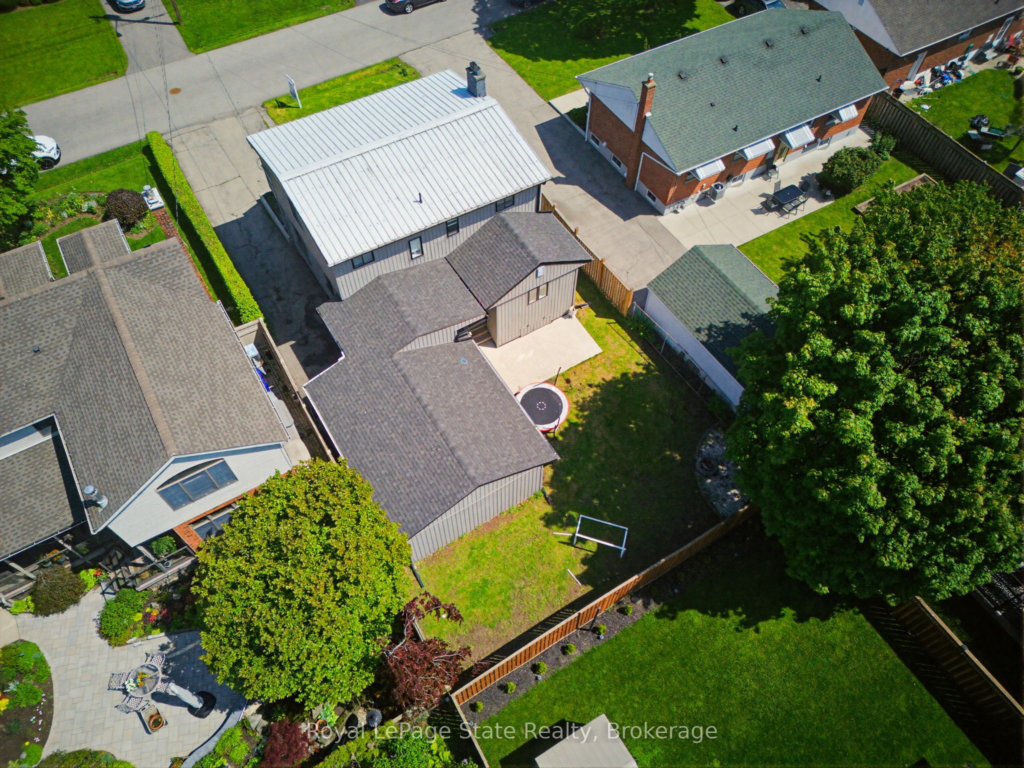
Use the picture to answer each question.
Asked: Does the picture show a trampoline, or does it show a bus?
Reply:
trampoline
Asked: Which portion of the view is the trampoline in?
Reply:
center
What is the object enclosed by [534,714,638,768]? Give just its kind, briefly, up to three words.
shed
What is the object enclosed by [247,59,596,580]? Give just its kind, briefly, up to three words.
house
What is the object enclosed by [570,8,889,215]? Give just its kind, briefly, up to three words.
house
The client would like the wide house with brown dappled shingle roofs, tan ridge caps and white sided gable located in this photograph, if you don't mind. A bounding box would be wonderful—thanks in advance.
[0,185,300,599]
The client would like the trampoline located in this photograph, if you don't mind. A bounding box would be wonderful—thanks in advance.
[516,369,571,432]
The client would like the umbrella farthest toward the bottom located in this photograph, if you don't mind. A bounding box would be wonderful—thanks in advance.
[176,681,216,720]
